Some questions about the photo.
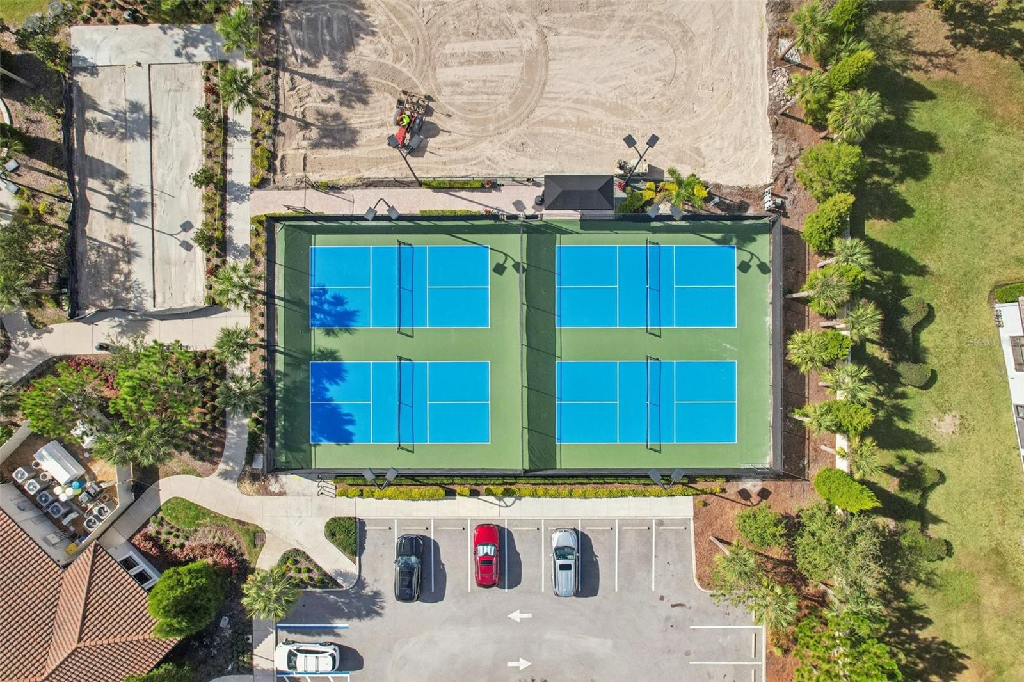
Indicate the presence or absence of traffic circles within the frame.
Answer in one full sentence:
No, there isn't any traffic circle down there.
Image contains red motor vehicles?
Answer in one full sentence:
Yes, a red motor vehicle appears in the view.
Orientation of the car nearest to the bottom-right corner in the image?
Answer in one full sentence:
From this overhead view, the car nearest to the bottom-right corner appears to run from top to bottom.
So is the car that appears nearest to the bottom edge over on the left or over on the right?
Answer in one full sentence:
The car that appears nearest to the bottom edge sits on the left side.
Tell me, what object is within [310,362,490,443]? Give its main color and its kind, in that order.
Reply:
blue sports court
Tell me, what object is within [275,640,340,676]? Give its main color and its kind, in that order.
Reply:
white car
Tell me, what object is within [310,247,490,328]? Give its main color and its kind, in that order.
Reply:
blue sports court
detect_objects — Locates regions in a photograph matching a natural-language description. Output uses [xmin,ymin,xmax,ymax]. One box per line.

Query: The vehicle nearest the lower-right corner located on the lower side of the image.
[549,527,582,596]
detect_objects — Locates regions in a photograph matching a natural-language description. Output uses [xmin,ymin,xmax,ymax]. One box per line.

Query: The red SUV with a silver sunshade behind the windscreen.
[471,522,503,587]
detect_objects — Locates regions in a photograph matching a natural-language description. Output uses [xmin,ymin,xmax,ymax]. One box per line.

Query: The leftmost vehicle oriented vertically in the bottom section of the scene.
[392,532,425,603]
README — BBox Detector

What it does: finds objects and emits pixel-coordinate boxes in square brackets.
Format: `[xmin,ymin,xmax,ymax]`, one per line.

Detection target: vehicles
[388,100,422,149]
[549,527,582,596]
[275,640,340,676]
[471,522,503,587]
[393,84,431,111]
[392,532,425,603]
